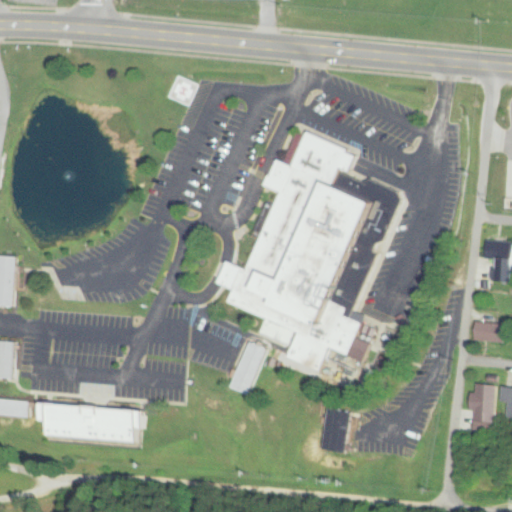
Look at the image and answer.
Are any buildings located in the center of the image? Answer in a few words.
Yes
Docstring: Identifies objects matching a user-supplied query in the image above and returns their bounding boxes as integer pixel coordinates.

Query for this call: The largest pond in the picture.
[14,98,127,245]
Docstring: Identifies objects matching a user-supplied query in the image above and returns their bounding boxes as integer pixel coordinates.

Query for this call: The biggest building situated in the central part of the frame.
[215,131,400,378]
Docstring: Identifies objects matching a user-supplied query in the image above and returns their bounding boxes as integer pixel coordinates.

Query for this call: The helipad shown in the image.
[168,75,200,108]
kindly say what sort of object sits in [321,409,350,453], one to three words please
shed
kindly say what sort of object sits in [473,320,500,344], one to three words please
house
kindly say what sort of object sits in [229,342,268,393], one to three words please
building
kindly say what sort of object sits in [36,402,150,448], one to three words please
building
